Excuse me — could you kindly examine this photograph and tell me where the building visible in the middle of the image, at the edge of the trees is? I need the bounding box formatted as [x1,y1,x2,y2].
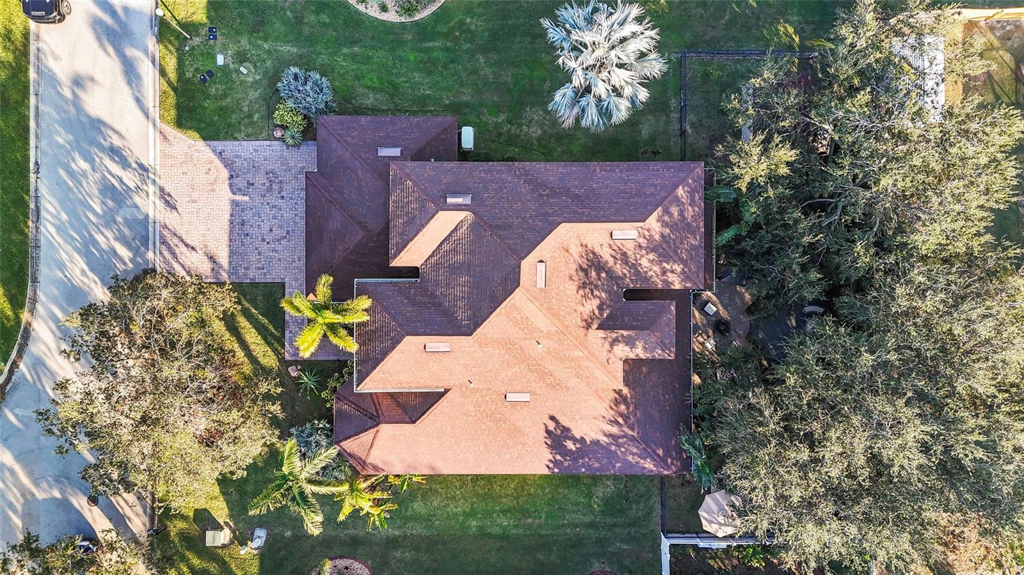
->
[303,114,719,477]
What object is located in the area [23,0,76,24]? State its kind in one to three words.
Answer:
car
